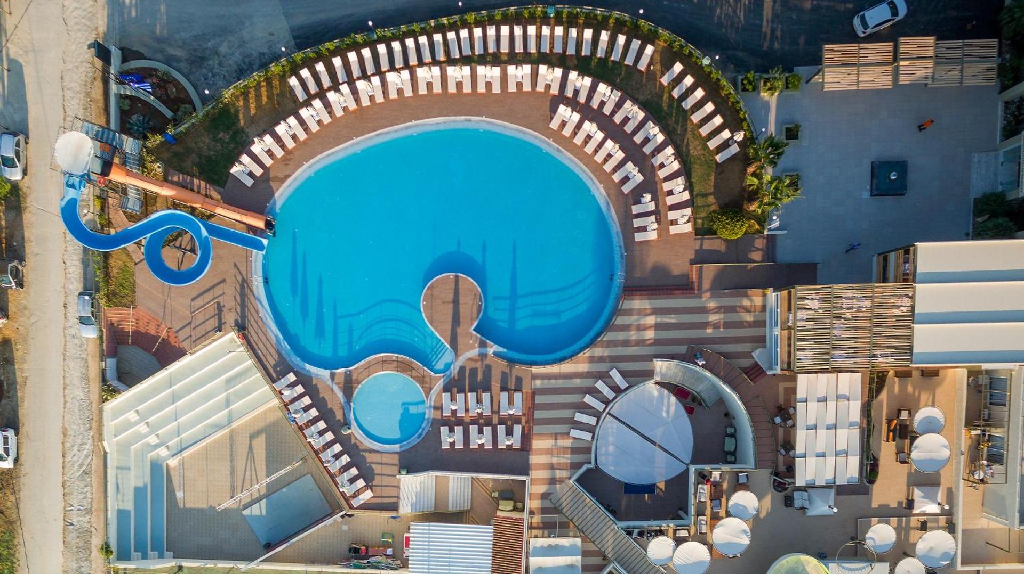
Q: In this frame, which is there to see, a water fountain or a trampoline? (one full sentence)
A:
I can see a water fountain in this picture.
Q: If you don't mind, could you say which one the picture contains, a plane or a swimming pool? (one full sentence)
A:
It is a swimming pool that can be seen here.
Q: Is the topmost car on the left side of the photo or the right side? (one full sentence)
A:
The topmost car is on the right side of the image.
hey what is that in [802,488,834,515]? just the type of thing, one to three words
umbrella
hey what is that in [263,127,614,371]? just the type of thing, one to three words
swimming pool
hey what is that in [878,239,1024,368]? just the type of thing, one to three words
building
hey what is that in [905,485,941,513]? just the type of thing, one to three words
umbrella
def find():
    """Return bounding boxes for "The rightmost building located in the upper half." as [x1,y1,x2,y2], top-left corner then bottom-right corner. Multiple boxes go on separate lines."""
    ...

[983,138,1024,203]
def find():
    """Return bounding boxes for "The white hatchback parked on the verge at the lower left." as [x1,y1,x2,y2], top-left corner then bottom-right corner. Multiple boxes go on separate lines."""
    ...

[0,424,22,471]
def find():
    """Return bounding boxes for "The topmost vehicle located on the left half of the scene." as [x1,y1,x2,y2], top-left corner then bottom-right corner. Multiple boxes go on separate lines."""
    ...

[0,130,29,181]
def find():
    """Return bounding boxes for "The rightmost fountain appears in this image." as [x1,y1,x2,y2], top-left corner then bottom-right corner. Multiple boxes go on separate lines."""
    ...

[872,159,910,195]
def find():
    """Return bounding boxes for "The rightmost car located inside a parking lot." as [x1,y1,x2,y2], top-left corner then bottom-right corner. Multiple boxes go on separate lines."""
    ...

[850,0,907,39]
